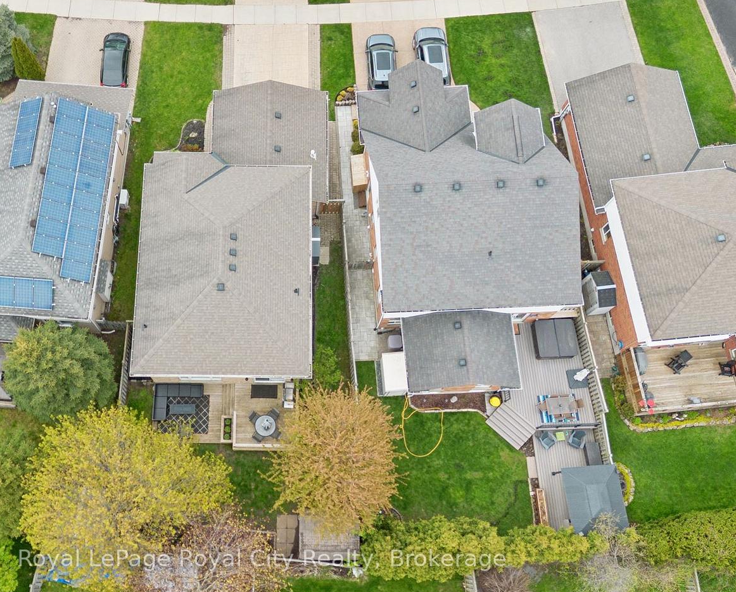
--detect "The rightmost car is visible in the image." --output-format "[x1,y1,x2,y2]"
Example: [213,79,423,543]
[412,27,455,85]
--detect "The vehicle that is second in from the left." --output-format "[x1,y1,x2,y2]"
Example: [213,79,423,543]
[366,36,400,91]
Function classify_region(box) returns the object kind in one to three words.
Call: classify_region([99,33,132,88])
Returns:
car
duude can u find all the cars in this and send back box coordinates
[412,27,455,85]
[366,36,400,91]
[99,33,132,88]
